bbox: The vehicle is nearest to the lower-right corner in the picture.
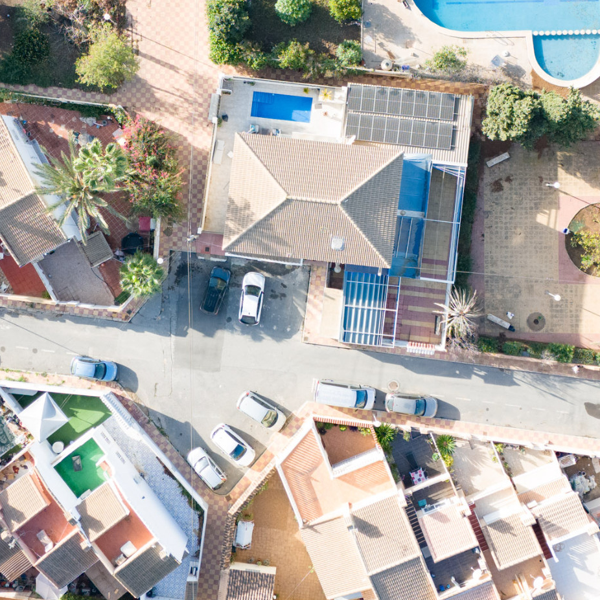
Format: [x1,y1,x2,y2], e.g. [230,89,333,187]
[383,389,441,421]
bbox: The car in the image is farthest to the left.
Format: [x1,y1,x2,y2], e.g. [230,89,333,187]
[64,353,123,384]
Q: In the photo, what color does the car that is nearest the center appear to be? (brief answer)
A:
white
